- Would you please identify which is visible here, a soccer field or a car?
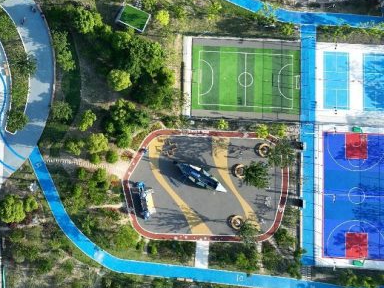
soccer field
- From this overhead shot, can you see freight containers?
No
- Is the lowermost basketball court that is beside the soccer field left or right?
right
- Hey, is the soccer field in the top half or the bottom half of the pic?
top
